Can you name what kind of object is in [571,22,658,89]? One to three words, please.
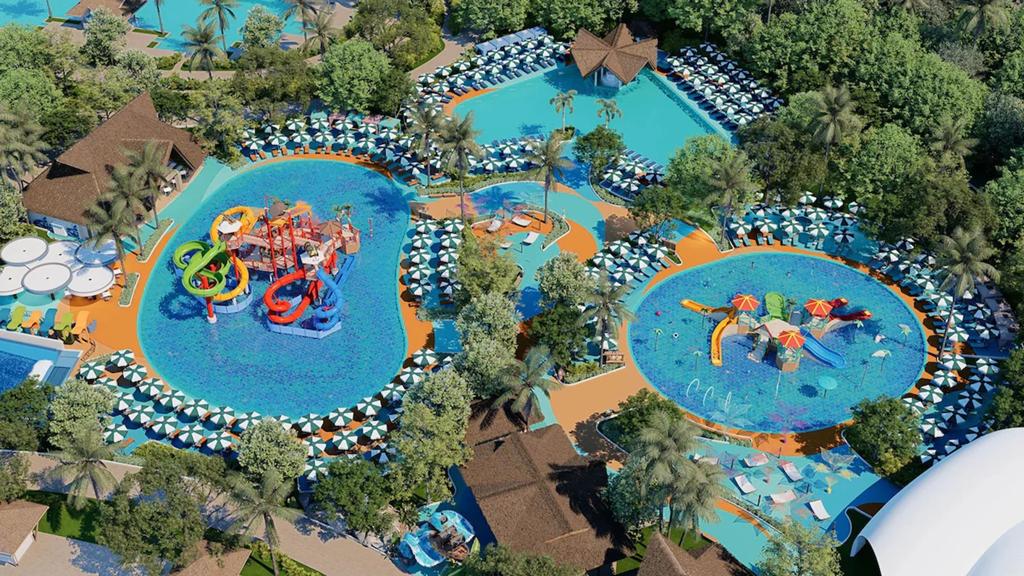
building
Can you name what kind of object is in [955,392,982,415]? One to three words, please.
umbrella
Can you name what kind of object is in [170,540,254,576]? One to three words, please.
shed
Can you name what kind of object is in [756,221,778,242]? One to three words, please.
umbrella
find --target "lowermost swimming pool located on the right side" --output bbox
[632,253,924,430]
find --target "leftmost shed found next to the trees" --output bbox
[0,494,53,571]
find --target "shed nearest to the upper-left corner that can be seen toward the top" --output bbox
[66,0,150,37]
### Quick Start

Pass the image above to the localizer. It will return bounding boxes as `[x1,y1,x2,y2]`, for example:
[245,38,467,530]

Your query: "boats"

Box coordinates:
[399,509,474,568]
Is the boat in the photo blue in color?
Yes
